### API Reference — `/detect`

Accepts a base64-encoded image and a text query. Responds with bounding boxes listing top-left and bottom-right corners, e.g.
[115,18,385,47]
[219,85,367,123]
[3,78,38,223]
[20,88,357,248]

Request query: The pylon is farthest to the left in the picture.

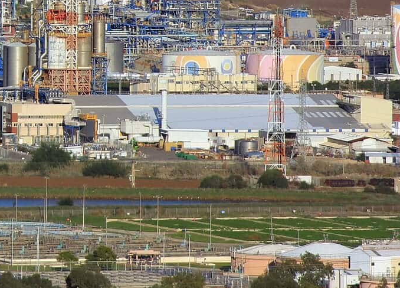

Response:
[292,84,314,158]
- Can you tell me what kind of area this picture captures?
industrial area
